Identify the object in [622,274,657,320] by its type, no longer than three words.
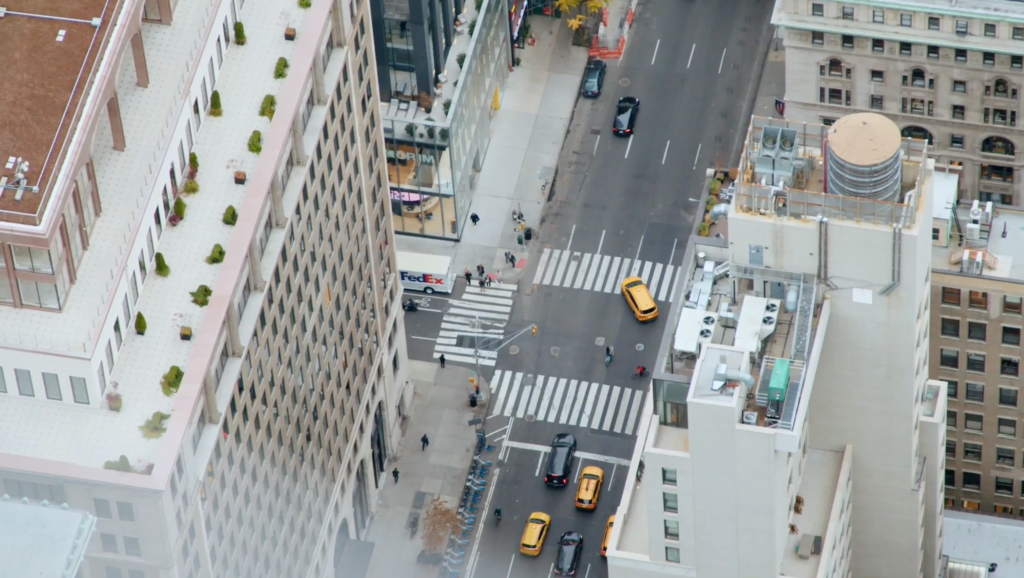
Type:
car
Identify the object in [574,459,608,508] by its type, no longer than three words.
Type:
car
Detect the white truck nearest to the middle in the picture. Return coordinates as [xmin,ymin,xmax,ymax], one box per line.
[397,249,457,294]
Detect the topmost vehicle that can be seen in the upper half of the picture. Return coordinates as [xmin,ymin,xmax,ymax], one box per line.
[582,52,614,95]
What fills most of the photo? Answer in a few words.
buildings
